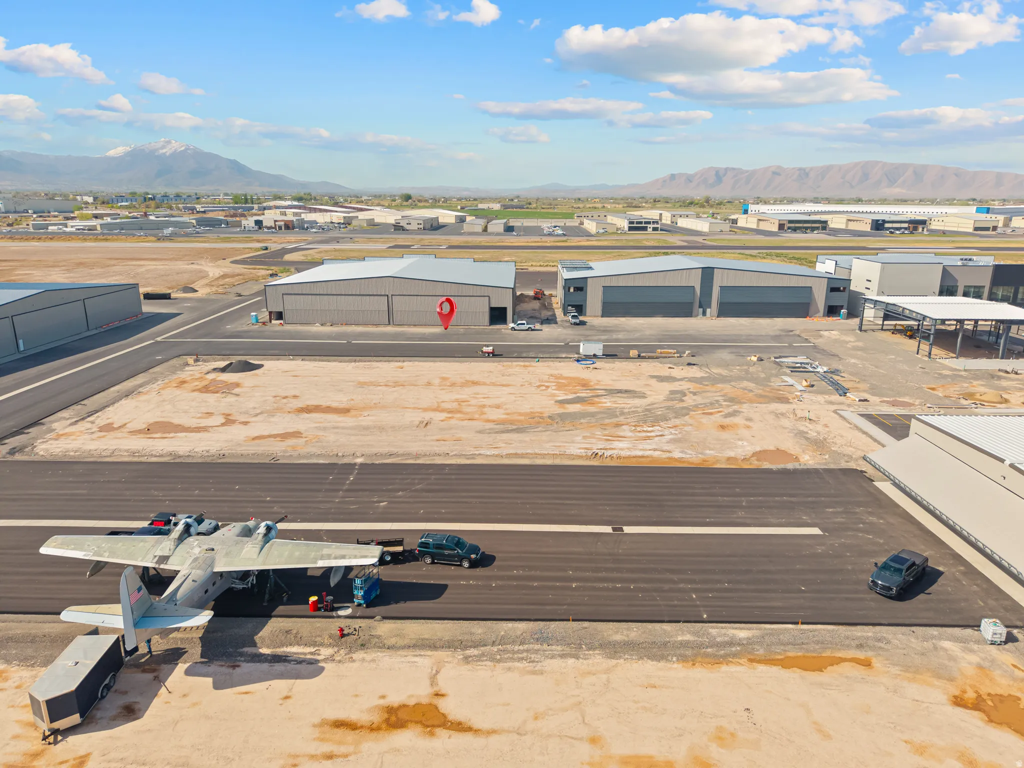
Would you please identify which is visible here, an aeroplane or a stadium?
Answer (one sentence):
I can see an aeroplane in this picture.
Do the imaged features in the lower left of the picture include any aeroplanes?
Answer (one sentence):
Yes, an aeroplane appears in the lower left of the picture.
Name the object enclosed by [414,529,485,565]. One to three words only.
car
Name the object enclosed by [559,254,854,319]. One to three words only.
hangar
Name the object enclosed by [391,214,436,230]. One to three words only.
hangar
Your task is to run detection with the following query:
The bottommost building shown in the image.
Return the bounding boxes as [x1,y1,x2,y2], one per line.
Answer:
[862,408,1024,586]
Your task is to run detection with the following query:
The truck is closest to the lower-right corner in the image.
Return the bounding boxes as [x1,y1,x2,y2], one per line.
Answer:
[872,546,933,594]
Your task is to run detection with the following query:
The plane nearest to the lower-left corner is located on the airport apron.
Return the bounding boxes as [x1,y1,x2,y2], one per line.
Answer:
[39,514,384,653]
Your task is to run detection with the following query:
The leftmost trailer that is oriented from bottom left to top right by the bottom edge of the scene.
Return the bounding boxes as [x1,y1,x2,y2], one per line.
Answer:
[27,627,139,750]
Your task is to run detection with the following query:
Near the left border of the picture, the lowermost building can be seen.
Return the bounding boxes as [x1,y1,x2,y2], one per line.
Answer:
[0,282,142,363]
